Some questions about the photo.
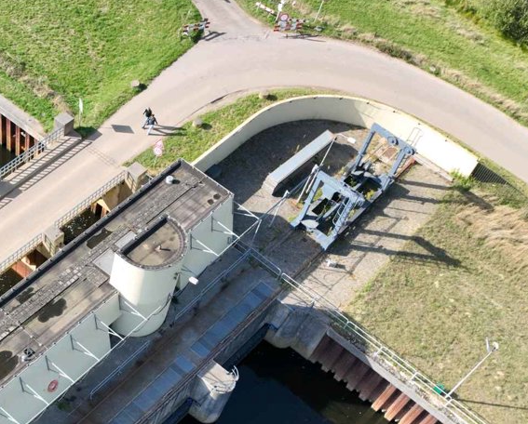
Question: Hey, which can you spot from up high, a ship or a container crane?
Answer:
container crane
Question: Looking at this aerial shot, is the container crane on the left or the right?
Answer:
right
